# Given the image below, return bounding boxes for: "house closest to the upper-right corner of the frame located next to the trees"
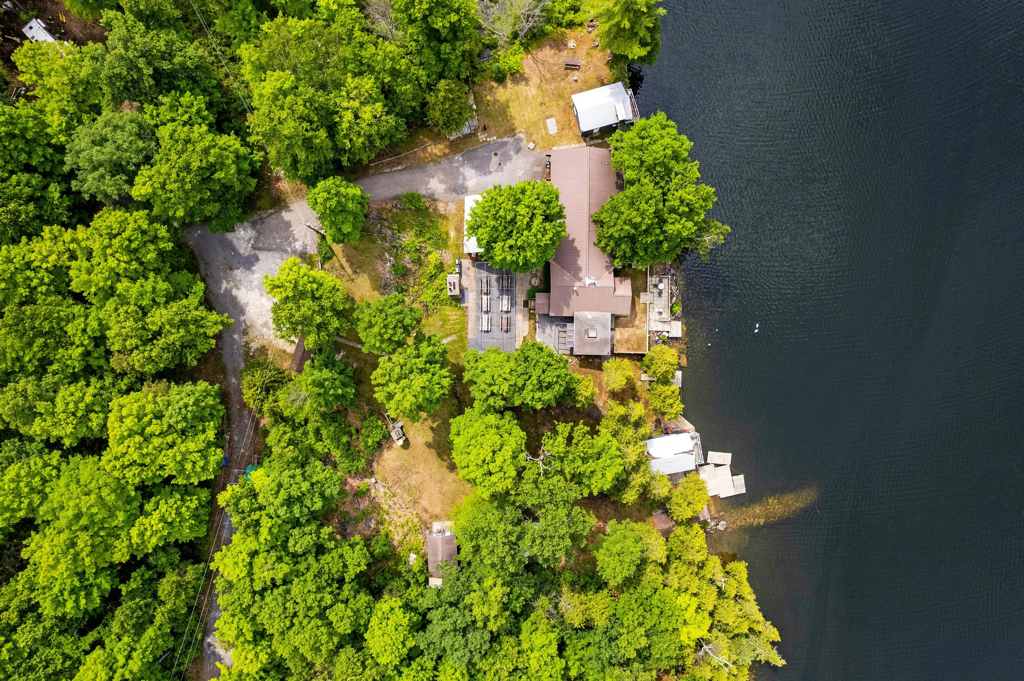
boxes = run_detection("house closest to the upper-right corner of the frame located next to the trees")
[571,81,632,135]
